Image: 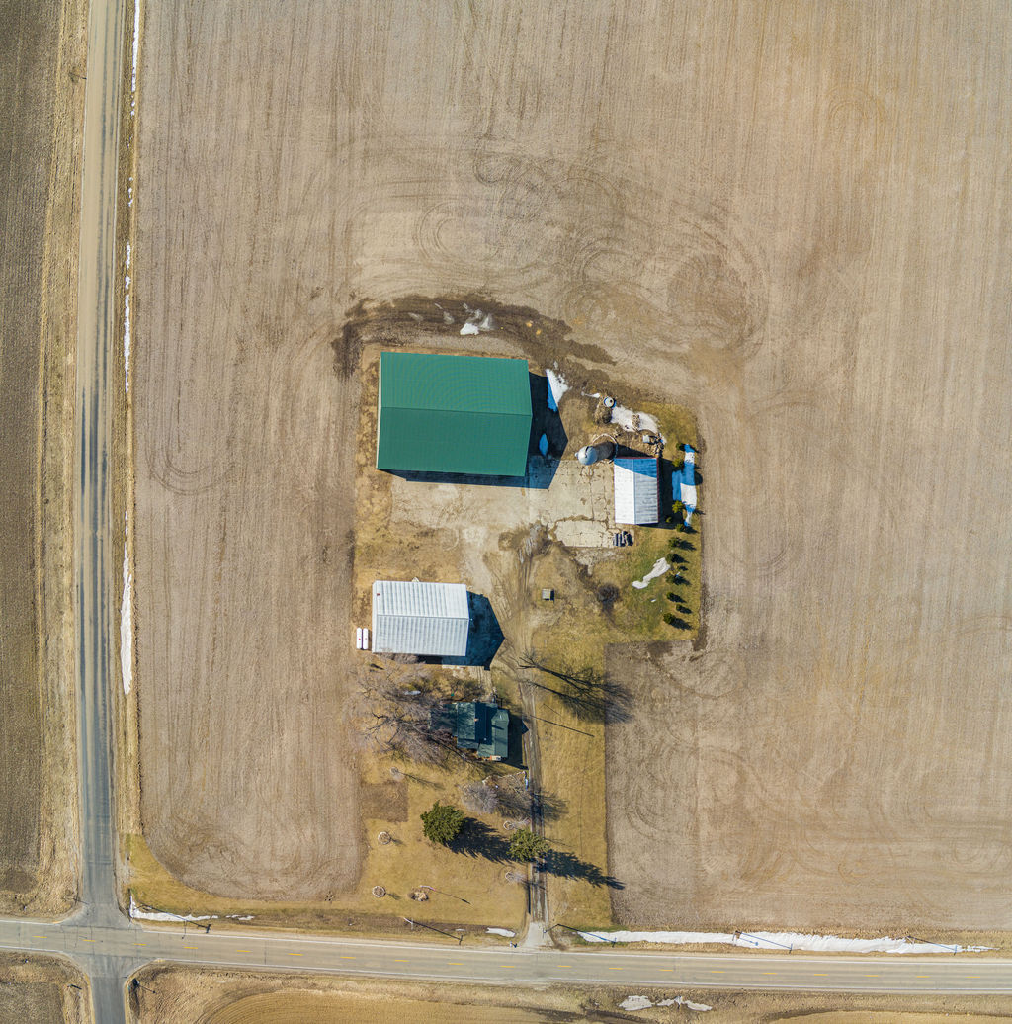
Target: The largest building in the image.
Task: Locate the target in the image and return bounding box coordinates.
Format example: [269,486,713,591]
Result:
[374,353,532,476]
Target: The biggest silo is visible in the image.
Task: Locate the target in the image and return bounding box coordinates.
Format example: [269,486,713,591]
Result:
[576,438,615,461]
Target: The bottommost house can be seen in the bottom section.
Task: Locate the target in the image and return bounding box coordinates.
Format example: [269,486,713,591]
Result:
[428,701,511,757]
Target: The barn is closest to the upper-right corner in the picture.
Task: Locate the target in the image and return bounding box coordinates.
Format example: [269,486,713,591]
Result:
[613,457,660,524]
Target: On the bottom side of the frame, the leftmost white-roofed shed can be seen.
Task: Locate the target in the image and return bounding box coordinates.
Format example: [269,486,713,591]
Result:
[369,578,471,656]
